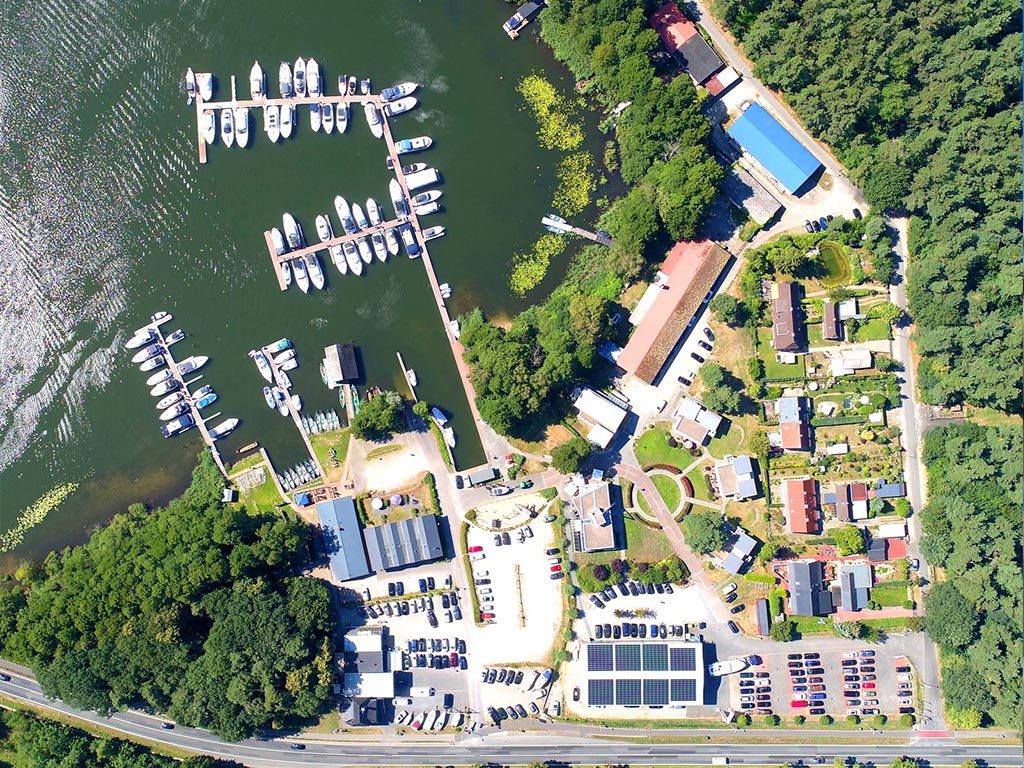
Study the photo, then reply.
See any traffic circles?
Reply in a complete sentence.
No, the frame has no traffic circle in it.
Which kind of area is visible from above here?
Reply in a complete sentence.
The picture captures a port.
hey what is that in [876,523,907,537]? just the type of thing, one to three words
building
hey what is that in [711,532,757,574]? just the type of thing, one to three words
house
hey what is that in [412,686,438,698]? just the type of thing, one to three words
vehicle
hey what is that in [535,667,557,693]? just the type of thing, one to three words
boat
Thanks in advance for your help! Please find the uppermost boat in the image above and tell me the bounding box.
[503,0,549,33]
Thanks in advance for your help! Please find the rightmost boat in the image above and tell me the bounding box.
[710,659,750,677]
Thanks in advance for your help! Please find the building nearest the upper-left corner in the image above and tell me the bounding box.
[323,344,359,388]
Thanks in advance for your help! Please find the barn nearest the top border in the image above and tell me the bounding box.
[649,1,697,55]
